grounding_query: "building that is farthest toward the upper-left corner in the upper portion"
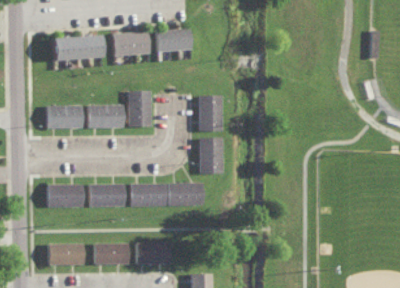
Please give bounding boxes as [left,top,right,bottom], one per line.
[52,34,107,69]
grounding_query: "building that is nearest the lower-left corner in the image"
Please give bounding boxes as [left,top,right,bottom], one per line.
[48,244,86,266]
